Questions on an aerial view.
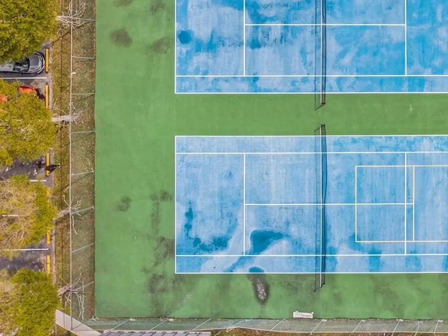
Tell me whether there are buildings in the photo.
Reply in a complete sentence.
No, I can see no building in this picture.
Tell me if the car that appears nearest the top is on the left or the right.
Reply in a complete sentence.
The car that appears nearest the top is on the left side of the image.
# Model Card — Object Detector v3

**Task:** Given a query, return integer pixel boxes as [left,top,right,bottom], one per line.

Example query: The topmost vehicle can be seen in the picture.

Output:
[0,52,41,79]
